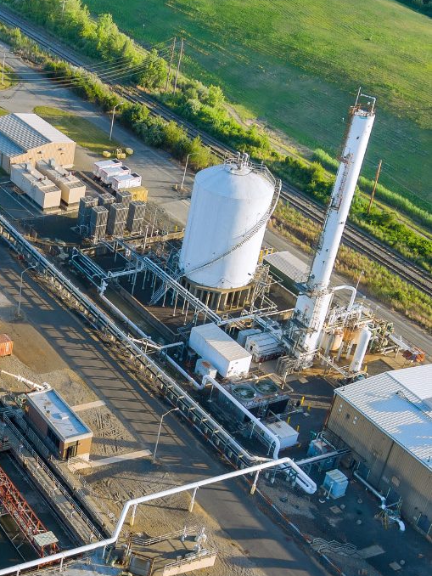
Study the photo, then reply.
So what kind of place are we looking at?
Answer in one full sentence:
What you see here is an industrial area.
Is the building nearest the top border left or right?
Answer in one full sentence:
You can find the building nearest the top border on the left side of the picture.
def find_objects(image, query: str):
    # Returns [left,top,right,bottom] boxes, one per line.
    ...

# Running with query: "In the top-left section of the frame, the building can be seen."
[0,108,78,169]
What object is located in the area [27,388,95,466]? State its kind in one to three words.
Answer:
building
